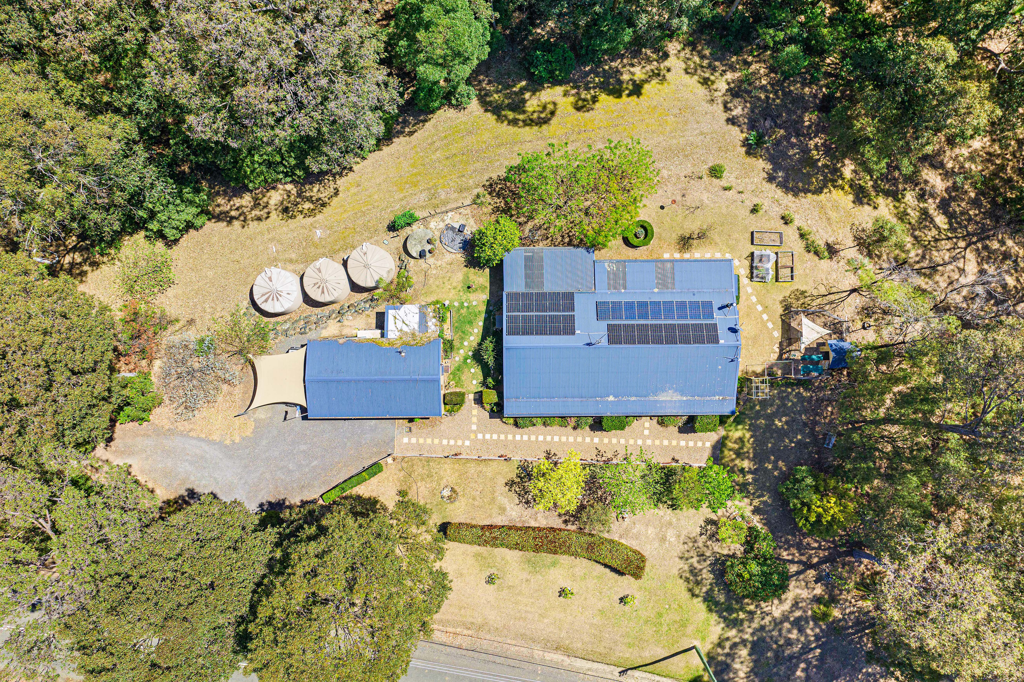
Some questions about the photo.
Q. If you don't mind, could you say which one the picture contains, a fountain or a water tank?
water tank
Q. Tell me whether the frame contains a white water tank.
Yes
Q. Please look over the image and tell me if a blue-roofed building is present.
Yes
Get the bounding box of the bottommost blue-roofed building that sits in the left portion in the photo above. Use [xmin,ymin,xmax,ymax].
[305,337,444,420]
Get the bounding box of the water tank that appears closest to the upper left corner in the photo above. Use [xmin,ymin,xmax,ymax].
[252,265,304,312]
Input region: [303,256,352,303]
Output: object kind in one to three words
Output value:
water tank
